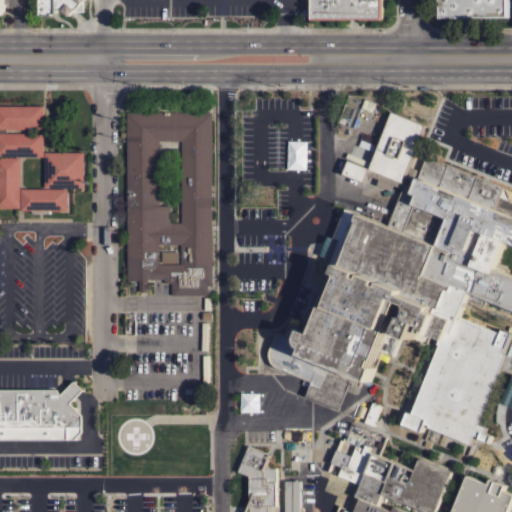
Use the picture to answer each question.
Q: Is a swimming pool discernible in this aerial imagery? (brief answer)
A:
No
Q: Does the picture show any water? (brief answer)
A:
No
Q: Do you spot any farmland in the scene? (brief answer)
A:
No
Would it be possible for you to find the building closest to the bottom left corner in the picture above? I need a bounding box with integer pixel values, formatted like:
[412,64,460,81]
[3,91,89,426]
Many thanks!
[0,382,87,442]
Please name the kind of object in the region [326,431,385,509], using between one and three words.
building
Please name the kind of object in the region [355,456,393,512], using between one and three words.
building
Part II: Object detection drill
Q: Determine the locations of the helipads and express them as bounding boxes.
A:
[118,418,154,455]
